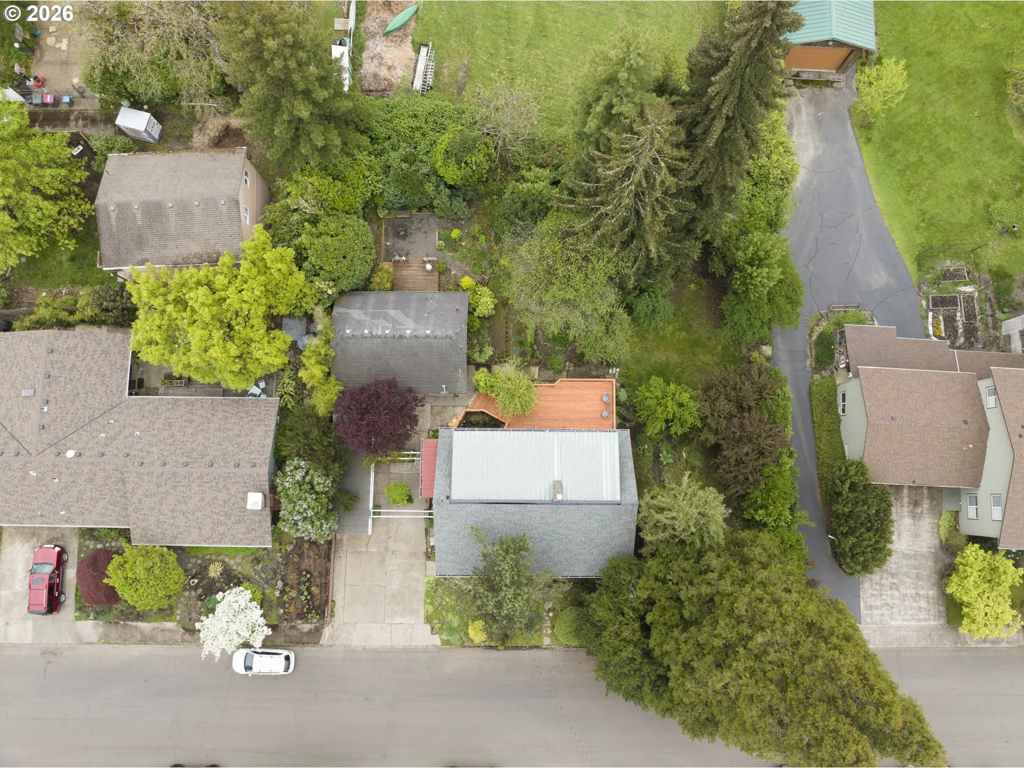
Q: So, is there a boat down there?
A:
Yes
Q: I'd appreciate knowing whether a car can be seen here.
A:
Yes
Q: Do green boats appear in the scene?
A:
Yes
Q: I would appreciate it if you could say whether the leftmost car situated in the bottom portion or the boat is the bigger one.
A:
the car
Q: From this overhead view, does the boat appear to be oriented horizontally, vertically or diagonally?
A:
diagonally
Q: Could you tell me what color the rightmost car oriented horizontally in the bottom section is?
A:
white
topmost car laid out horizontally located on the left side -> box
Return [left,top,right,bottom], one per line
[232,647,297,678]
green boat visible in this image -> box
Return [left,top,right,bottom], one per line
[382,4,419,37]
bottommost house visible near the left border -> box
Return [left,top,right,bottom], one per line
[0,328,296,549]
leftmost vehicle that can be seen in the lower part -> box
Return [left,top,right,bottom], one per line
[26,544,68,614]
